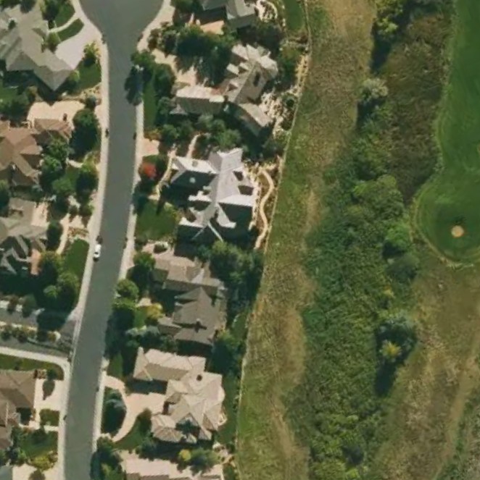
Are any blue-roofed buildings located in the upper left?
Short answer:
No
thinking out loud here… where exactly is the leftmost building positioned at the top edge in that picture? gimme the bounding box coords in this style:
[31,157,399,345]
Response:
[0,0,70,92]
